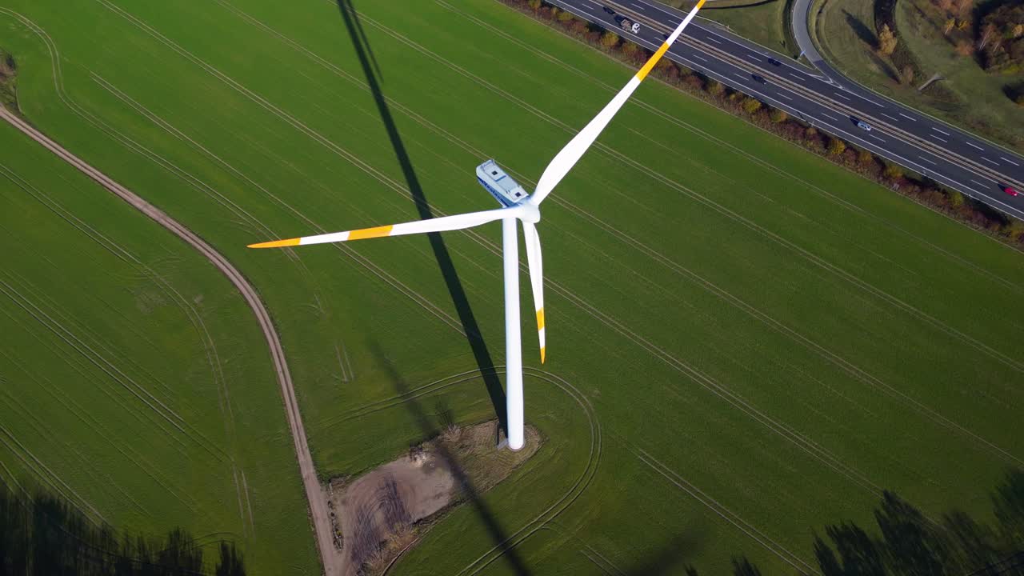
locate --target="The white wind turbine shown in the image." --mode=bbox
[251,0,708,449]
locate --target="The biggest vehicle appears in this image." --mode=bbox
[622,20,642,35]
